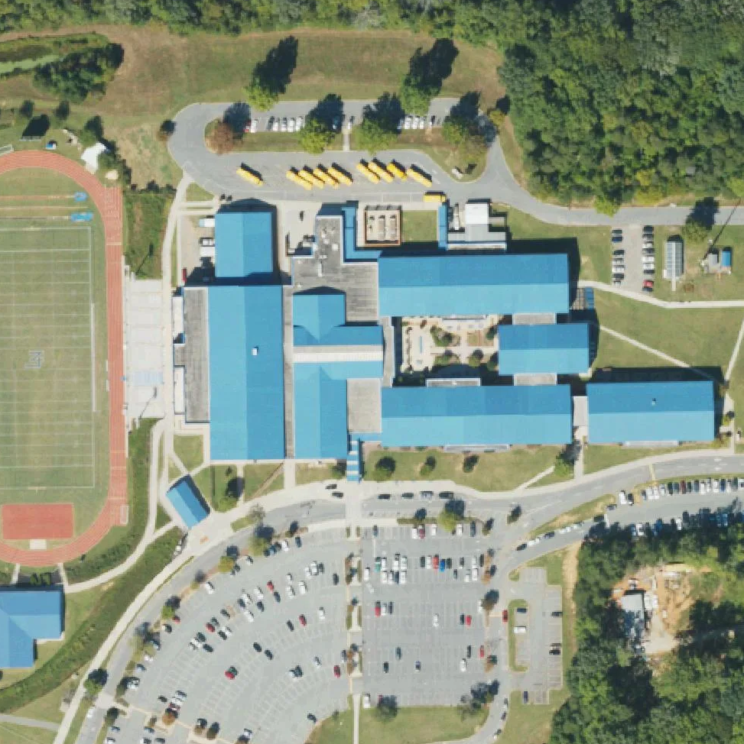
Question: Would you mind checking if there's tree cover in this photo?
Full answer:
Yes, there's tree cover in this view.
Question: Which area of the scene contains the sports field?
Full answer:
The sports field is located in the left region of the scene.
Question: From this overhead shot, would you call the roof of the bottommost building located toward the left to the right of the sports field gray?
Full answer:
No, the roof of the bottommost building located toward the left to the right of the sports field is actually blue.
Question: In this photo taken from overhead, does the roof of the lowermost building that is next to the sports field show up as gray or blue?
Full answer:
The roof of the lowermost building that is next to the sports field is blue.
